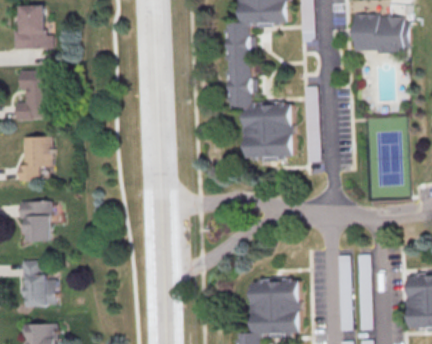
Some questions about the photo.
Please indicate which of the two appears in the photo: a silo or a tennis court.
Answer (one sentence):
I can see a tennis court in this picture.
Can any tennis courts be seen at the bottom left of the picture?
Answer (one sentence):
No, there's no tennis court to be seen at the bottom left of the picture.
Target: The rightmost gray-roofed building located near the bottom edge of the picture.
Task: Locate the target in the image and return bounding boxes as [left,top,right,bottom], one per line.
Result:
[400,272,432,331]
